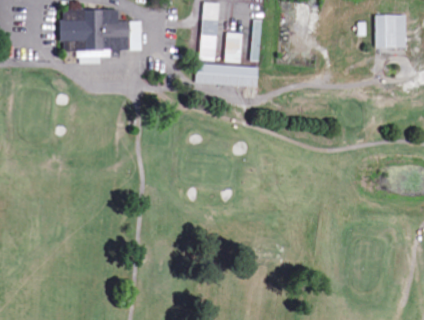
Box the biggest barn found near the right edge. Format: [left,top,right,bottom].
[374,14,406,50]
